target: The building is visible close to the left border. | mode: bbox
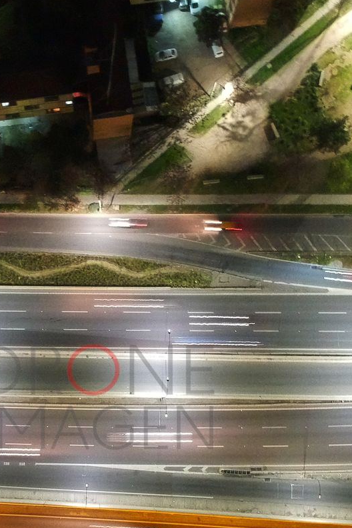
[0,58,86,126]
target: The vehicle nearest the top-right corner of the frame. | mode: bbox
[210,40,224,61]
